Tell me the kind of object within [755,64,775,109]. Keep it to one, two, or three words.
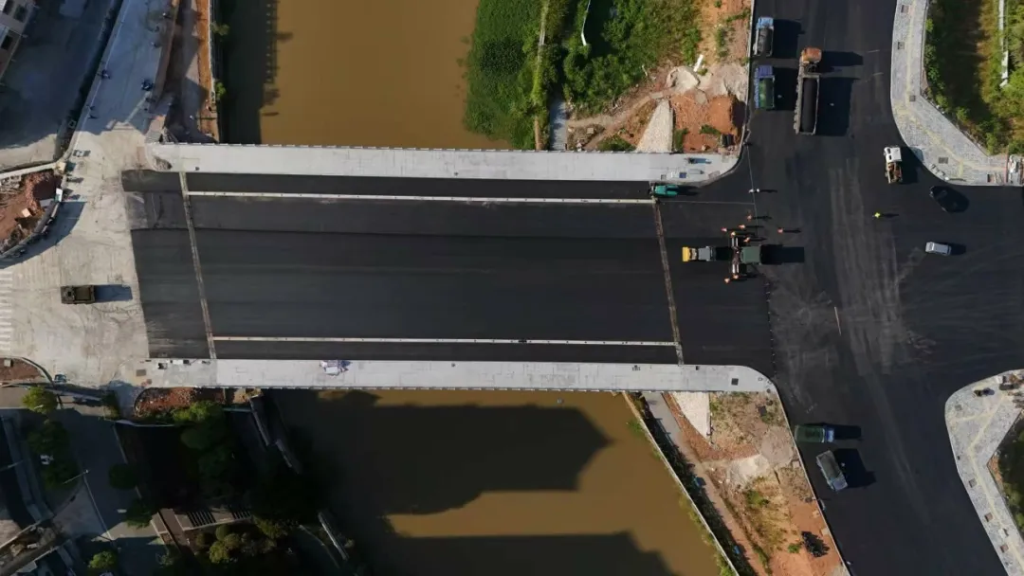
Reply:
vehicle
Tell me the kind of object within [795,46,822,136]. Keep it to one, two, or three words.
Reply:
truck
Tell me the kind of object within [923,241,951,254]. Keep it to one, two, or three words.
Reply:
vehicle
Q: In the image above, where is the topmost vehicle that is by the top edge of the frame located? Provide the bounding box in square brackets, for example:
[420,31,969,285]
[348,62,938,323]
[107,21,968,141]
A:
[754,16,773,56]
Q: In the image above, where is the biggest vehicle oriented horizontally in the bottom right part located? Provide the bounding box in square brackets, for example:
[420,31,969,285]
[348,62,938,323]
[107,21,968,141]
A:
[791,424,837,443]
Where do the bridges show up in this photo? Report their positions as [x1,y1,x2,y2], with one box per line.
[142,142,777,394]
